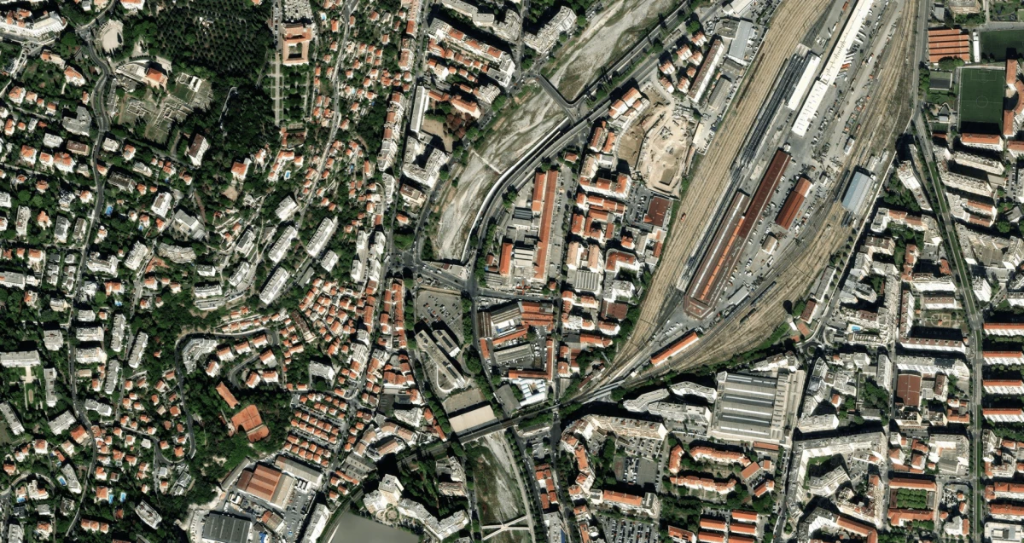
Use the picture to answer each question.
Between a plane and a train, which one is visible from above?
train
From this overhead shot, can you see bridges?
Yes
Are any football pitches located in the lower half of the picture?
No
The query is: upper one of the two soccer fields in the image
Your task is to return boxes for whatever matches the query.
[980,29,1024,62]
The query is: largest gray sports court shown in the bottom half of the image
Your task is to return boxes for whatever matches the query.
[636,459,657,487]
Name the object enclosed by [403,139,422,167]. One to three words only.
building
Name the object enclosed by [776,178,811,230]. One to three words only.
shed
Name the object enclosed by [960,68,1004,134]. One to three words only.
soccer field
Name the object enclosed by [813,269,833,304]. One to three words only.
house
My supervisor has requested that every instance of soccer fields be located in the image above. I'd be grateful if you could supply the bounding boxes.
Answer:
[980,29,1024,62]
[960,68,1004,134]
